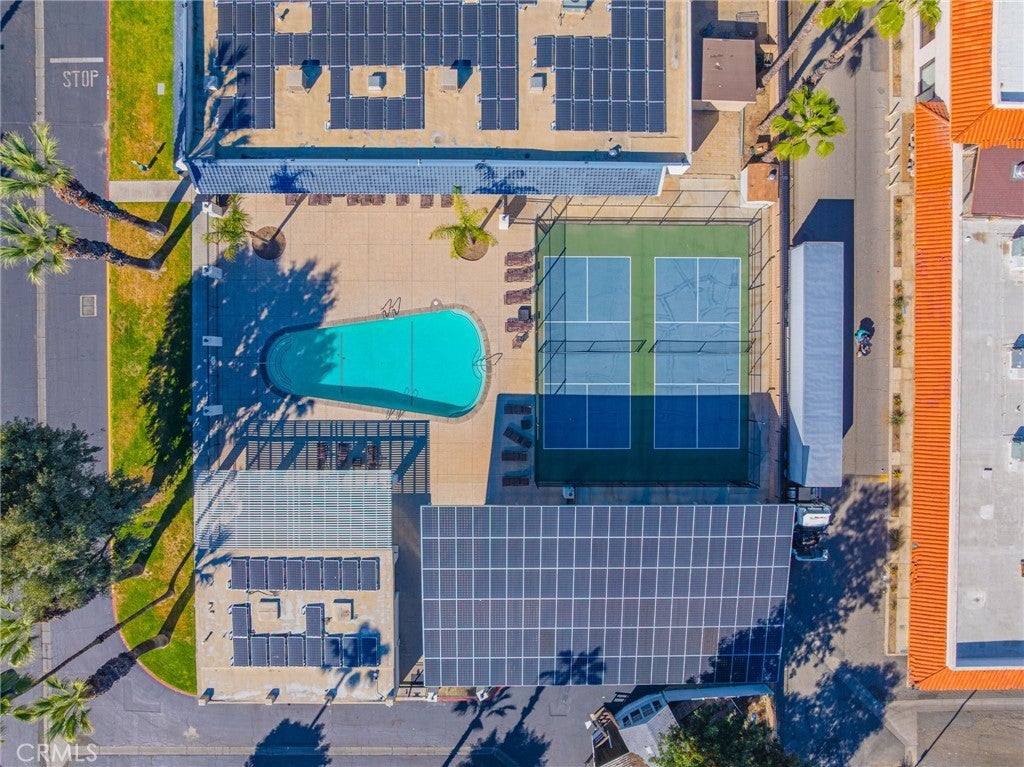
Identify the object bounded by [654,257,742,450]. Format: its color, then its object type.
blue sports court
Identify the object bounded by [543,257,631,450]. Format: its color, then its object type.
blue sports court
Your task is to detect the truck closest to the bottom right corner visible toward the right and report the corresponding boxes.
[783,483,838,561]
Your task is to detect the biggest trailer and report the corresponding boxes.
[790,241,844,488]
